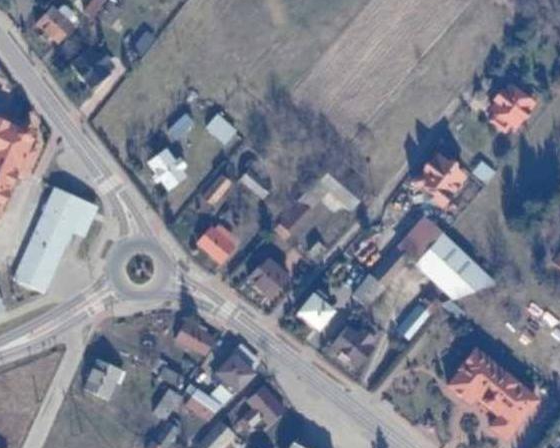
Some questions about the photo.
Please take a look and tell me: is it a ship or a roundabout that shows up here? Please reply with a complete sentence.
Of the two, only a roundabout appears.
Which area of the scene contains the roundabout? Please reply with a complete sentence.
You can find the roundabout in the left area of the picture.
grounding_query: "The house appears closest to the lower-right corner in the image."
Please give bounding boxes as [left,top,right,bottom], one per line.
[447,349,540,443]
